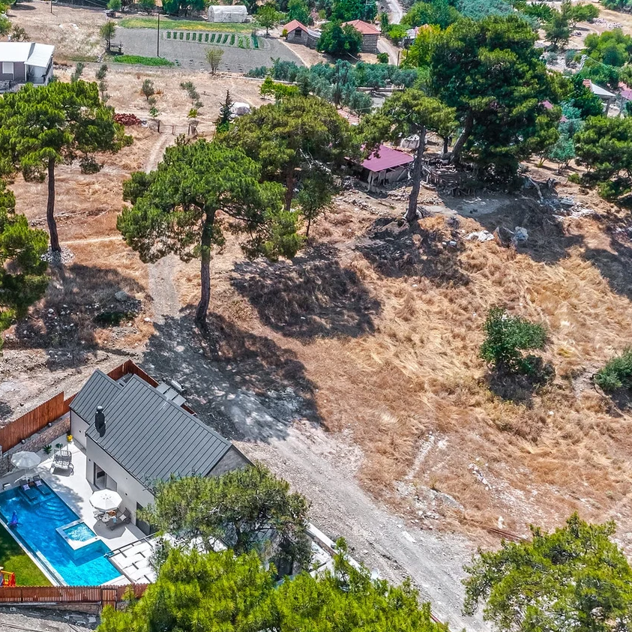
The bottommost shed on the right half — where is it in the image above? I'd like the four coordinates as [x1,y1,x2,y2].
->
[356,145,414,198]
